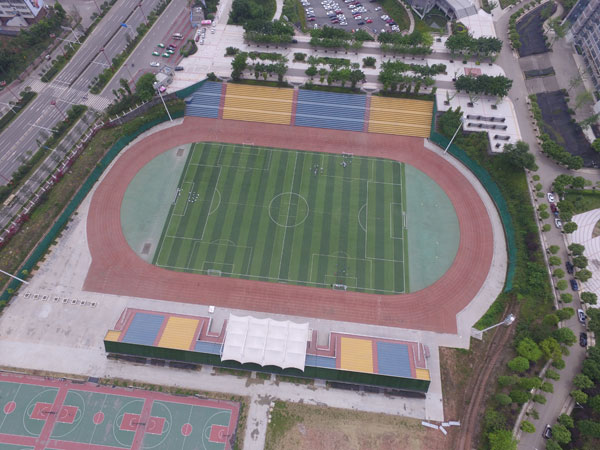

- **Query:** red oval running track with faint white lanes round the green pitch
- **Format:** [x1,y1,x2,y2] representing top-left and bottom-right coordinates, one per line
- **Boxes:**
[81,117,493,334]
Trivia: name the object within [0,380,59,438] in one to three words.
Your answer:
basketball court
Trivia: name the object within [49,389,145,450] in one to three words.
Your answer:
basketball court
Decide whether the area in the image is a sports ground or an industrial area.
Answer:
sports ground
